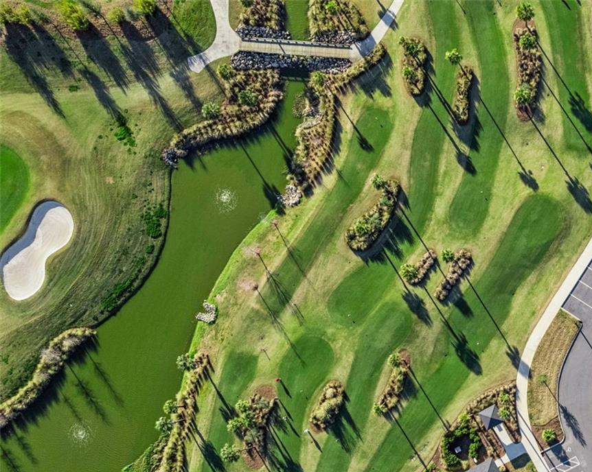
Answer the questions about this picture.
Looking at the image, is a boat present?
No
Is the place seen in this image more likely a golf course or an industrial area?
golf course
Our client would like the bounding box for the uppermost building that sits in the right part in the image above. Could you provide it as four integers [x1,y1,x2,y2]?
[478,404,503,429]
